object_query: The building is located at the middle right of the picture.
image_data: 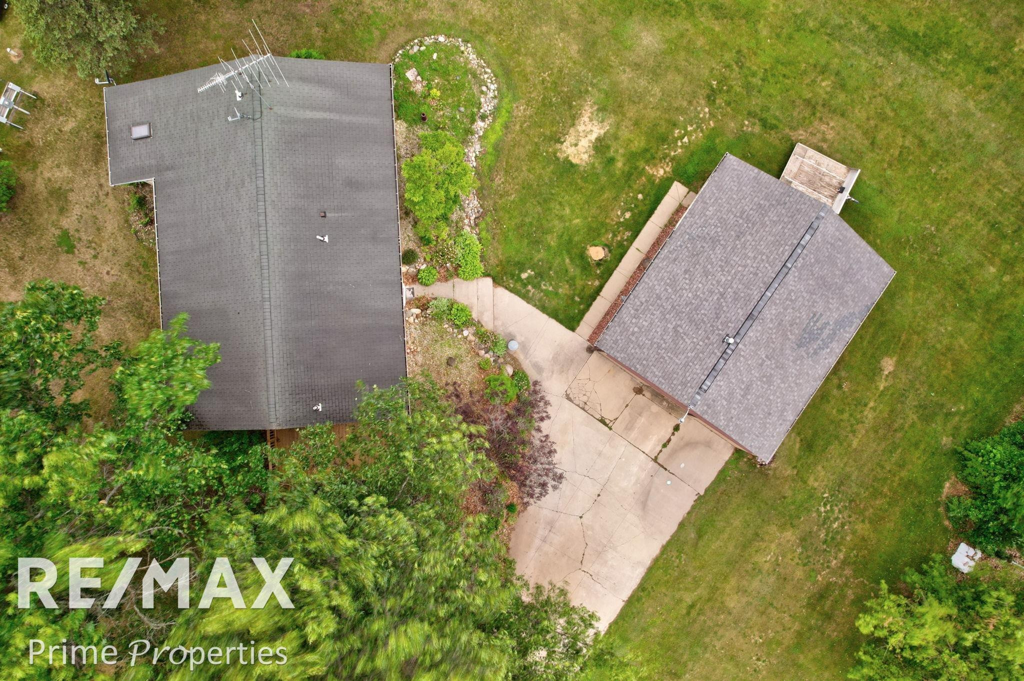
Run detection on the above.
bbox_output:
[593,154,898,463]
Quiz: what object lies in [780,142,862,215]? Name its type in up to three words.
trailer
